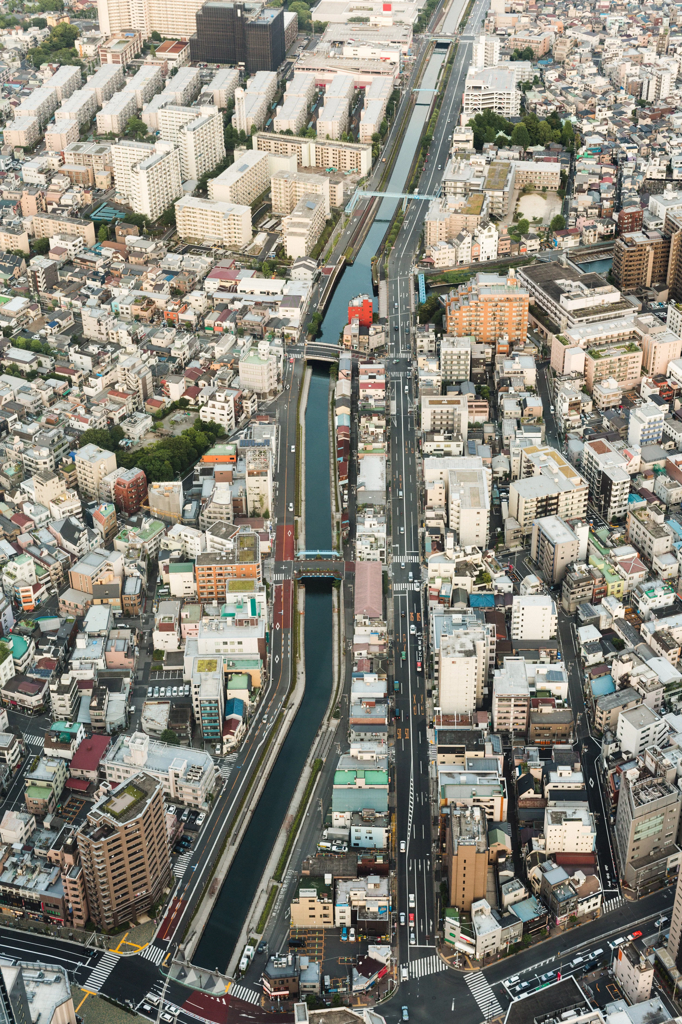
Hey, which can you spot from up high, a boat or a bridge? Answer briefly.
bridge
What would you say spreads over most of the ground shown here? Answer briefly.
buildings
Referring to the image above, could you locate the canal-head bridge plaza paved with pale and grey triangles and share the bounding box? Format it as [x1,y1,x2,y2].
[164,960,234,994]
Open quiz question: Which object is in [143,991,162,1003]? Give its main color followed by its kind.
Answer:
white vehicle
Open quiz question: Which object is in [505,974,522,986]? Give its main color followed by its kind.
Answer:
white vehicle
